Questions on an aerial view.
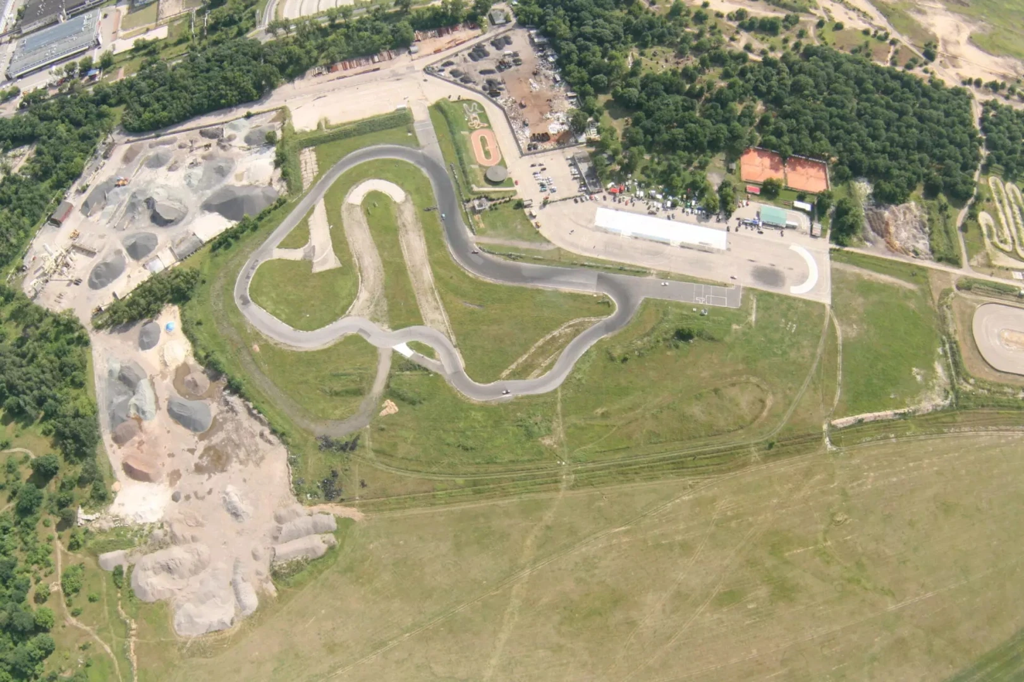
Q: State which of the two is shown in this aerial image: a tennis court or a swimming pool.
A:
tennis court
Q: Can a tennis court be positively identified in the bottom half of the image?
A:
No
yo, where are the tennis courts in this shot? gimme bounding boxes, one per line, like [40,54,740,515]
[786,158,828,190]
[742,150,783,180]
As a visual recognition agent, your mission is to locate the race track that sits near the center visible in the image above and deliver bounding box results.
[235,144,741,400]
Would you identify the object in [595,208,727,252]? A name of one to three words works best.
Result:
tent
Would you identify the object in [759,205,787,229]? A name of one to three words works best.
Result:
building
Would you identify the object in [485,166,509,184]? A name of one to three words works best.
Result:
building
